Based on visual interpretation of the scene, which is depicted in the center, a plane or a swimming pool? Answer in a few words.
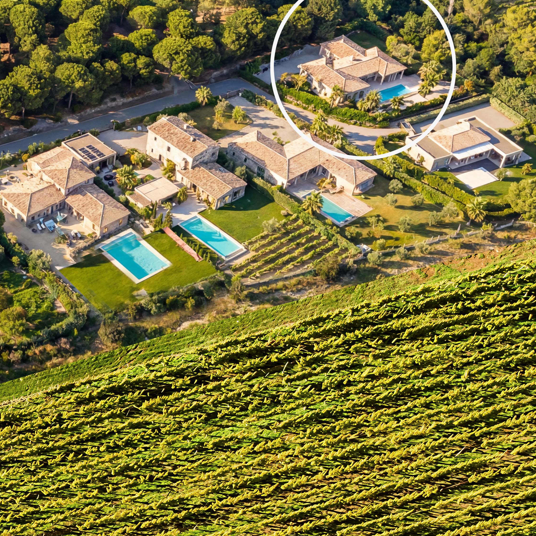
swimming pool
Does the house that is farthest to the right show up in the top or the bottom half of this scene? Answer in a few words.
top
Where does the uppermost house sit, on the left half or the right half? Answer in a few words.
right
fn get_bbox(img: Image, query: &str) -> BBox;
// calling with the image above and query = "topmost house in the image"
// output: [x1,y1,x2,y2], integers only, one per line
[301,37,409,103]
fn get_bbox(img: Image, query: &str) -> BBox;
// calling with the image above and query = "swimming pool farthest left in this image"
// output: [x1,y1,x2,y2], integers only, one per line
[94,228,177,284]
